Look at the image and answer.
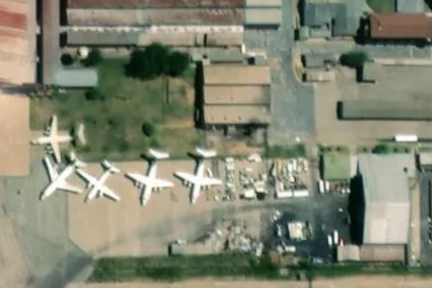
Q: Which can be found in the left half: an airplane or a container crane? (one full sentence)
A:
It is an airplane that can be seen in the left half.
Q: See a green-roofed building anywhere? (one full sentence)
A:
Yes, a green-roofed building is visible in the scene.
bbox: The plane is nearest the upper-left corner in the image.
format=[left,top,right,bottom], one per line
[30,115,85,162]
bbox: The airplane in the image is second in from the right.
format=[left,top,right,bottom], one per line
[127,149,175,205]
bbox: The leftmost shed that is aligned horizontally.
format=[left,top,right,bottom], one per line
[54,69,97,88]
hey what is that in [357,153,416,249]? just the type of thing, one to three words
building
